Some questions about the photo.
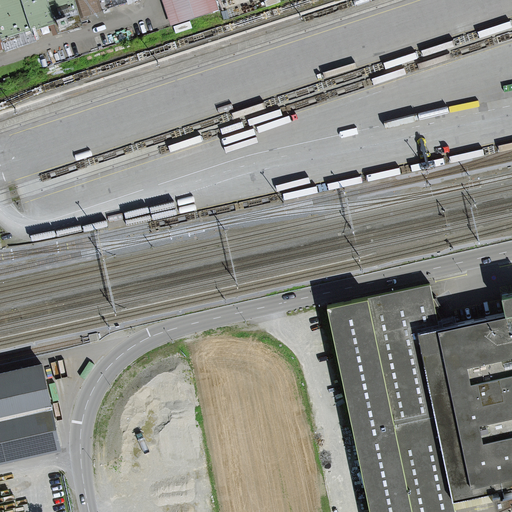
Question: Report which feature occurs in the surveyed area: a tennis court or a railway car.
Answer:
railway car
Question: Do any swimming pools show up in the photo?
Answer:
No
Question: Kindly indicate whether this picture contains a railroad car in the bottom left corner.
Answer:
No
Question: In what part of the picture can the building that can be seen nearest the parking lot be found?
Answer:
bottom right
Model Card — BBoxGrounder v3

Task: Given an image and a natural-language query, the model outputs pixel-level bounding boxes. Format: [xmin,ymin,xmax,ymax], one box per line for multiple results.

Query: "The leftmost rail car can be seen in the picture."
[0,88,40,108]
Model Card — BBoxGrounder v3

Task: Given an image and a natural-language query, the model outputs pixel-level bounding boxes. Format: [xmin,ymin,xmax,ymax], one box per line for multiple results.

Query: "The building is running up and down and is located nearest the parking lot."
[327,284,454,512]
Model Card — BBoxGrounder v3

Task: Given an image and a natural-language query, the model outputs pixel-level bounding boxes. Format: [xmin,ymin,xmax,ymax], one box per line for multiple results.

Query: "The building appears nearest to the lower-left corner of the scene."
[0,360,61,462]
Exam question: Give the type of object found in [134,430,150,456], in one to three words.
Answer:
vehicle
